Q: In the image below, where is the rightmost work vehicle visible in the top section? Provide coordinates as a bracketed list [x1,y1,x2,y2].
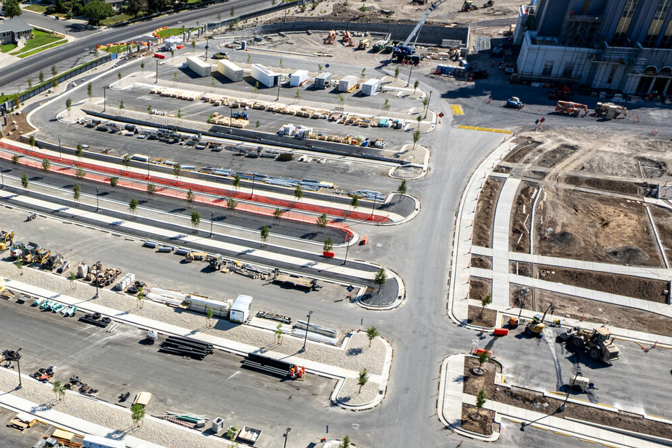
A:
[594,99,630,118]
